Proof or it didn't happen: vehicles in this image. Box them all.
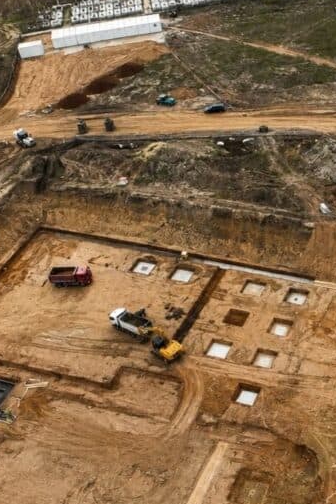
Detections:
[75,118,89,133]
[43,264,91,284]
[108,307,153,339]
[154,94,176,105]
[147,320,183,360]
[101,119,117,131]
[12,128,33,145]
[204,102,225,112]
